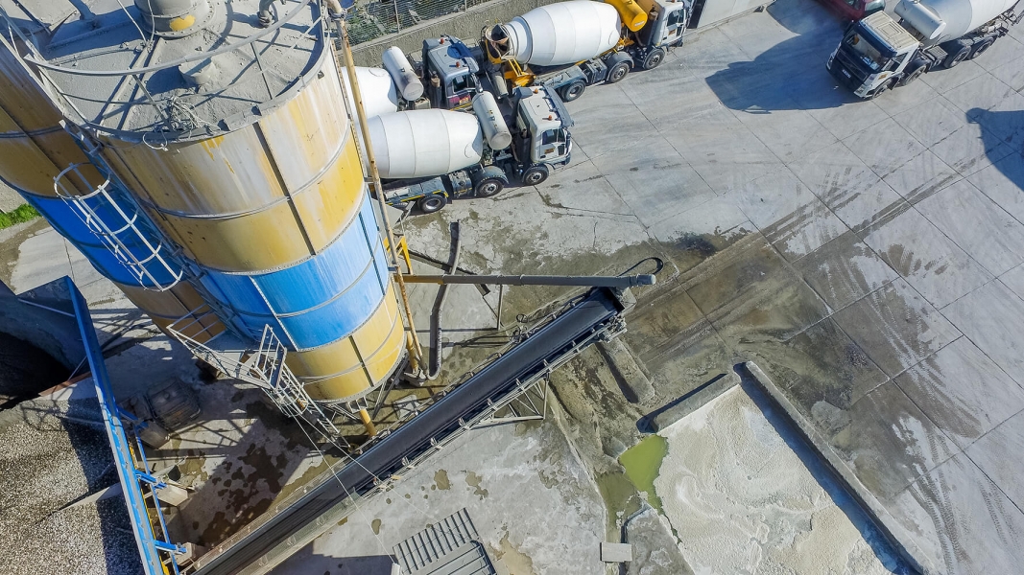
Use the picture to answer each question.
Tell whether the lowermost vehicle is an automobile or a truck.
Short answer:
truck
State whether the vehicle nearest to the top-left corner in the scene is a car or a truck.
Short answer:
truck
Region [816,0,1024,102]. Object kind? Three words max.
truck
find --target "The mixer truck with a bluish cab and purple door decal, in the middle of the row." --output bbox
[334,34,481,124]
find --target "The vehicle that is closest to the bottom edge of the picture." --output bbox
[354,83,577,220]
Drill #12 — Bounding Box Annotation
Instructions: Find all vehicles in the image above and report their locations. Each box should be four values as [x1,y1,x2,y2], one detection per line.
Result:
[829,0,891,22]
[334,34,481,124]
[476,0,694,104]
[354,83,577,220]
[816,0,1024,102]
